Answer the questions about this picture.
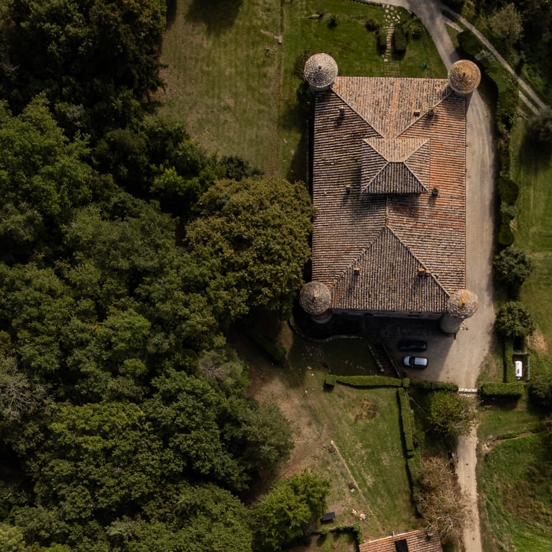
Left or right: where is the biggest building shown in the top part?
right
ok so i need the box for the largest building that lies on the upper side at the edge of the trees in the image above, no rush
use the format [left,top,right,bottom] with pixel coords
[299,52,482,330]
